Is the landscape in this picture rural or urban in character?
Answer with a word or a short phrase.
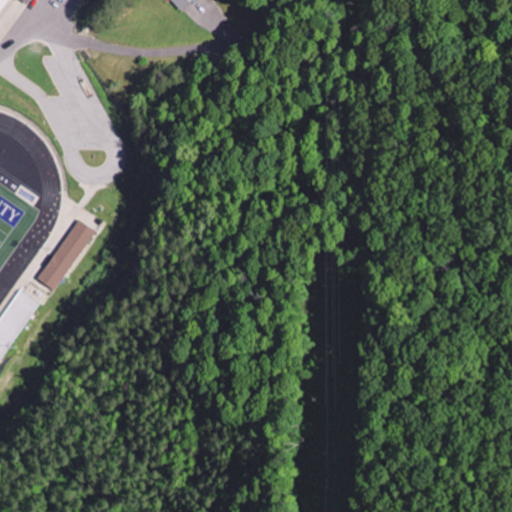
rural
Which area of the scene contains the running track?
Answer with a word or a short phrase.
left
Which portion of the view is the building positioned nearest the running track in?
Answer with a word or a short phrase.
left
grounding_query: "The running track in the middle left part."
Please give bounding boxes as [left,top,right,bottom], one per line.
[0,113,62,302]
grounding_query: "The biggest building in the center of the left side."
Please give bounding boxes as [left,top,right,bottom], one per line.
[36,219,96,292]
